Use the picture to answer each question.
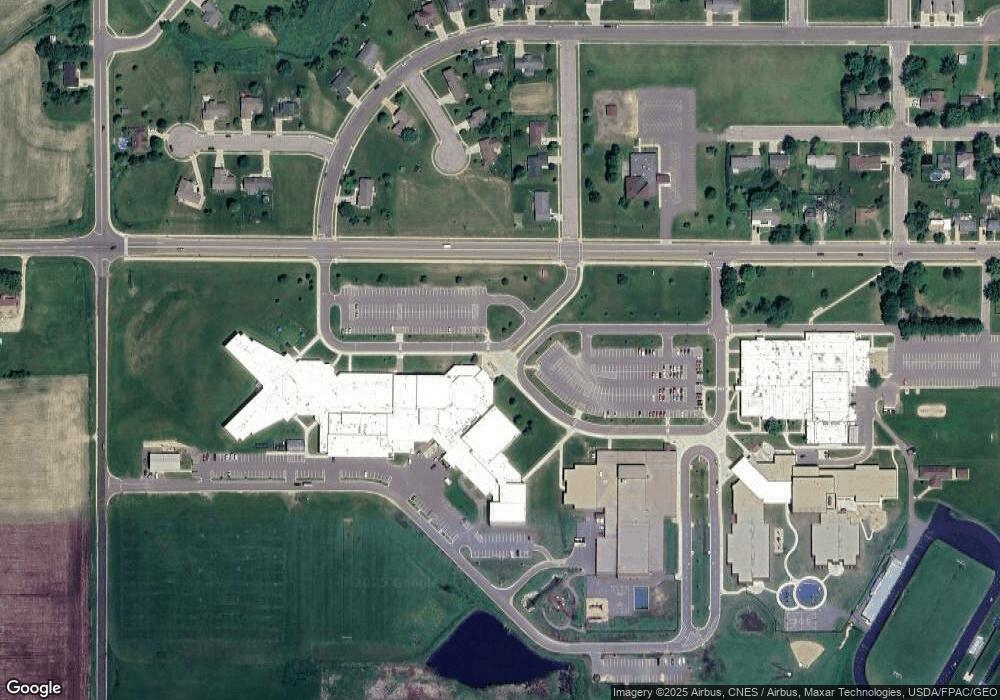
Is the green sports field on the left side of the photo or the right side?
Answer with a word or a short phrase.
right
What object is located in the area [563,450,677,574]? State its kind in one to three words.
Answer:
building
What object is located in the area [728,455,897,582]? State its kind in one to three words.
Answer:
building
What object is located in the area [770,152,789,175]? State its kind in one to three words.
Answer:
house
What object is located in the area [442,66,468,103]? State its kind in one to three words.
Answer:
house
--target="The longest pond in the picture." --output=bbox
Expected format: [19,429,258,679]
[426,609,570,688]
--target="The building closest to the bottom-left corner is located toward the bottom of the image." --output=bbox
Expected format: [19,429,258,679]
[149,454,180,473]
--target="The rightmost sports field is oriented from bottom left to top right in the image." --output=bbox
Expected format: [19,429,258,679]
[866,540,994,700]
